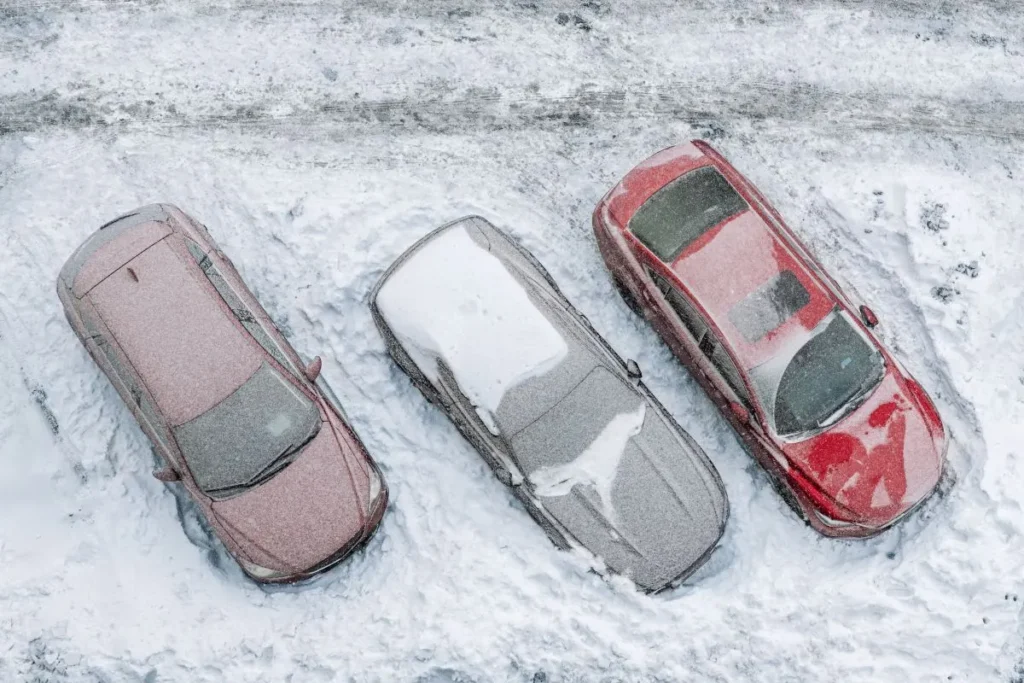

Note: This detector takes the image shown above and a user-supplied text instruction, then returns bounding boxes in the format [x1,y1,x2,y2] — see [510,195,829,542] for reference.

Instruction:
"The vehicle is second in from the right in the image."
[367,214,729,605]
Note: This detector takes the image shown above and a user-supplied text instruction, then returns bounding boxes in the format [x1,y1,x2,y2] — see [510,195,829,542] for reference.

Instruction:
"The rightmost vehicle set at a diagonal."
[592,141,945,529]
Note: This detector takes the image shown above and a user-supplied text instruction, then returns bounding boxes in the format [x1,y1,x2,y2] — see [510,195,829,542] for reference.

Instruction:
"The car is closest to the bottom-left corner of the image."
[57,207,386,582]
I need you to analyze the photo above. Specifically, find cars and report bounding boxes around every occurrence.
[592,141,945,529]
[367,214,729,605]
[57,207,386,582]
